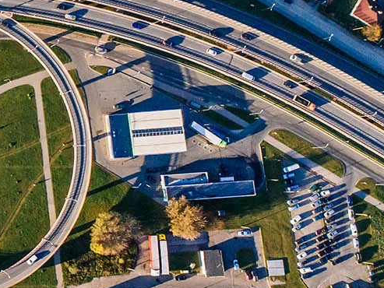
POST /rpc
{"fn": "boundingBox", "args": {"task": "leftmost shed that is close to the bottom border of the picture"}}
[198,249,225,277]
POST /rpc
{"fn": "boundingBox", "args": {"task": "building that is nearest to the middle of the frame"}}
[157,173,256,201]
